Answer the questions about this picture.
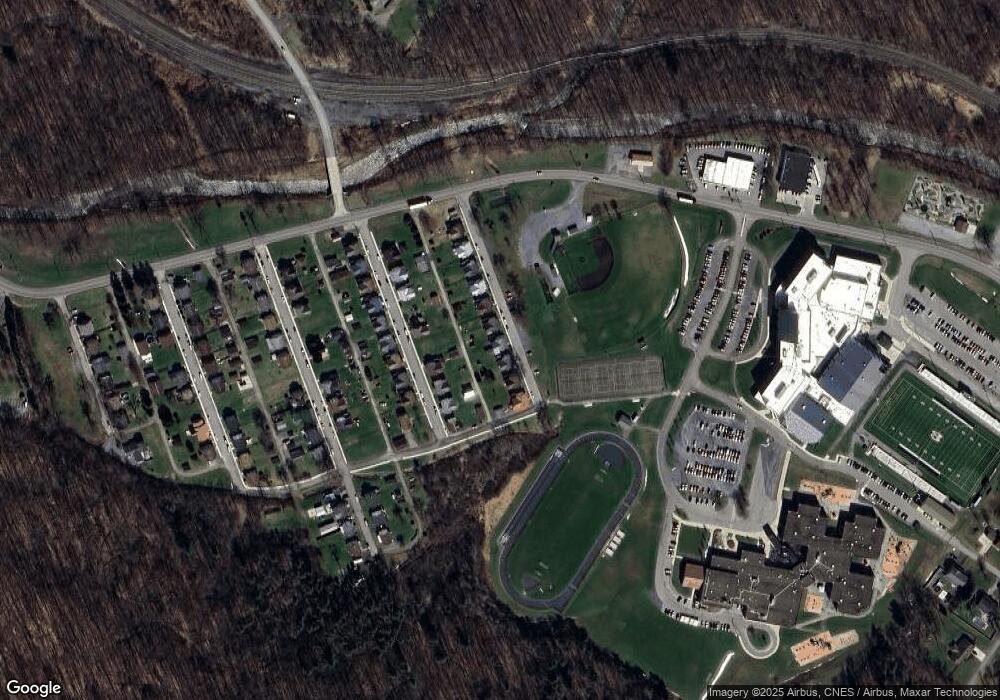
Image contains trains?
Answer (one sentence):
No, this view has no train in it.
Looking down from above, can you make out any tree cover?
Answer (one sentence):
Yes, there's tree cover in this view.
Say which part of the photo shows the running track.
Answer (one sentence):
The running track appears toward the bottom of the photo.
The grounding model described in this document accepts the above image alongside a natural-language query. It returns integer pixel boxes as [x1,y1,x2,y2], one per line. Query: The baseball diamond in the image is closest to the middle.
[554,226,632,303]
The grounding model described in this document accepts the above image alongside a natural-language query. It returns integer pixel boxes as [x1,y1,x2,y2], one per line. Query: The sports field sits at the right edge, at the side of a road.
[858,364,1000,513]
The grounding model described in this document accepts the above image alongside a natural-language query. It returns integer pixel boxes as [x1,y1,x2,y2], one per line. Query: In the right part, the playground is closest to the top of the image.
[800,481,857,503]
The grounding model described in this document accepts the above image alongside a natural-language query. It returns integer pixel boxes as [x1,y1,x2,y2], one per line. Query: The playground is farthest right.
[883,537,913,579]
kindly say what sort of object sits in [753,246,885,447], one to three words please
building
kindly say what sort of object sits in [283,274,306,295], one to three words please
house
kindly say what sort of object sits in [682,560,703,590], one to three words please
building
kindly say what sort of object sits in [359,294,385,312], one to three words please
house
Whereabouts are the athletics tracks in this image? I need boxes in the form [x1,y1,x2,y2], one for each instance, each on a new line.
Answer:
[494,429,642,615]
